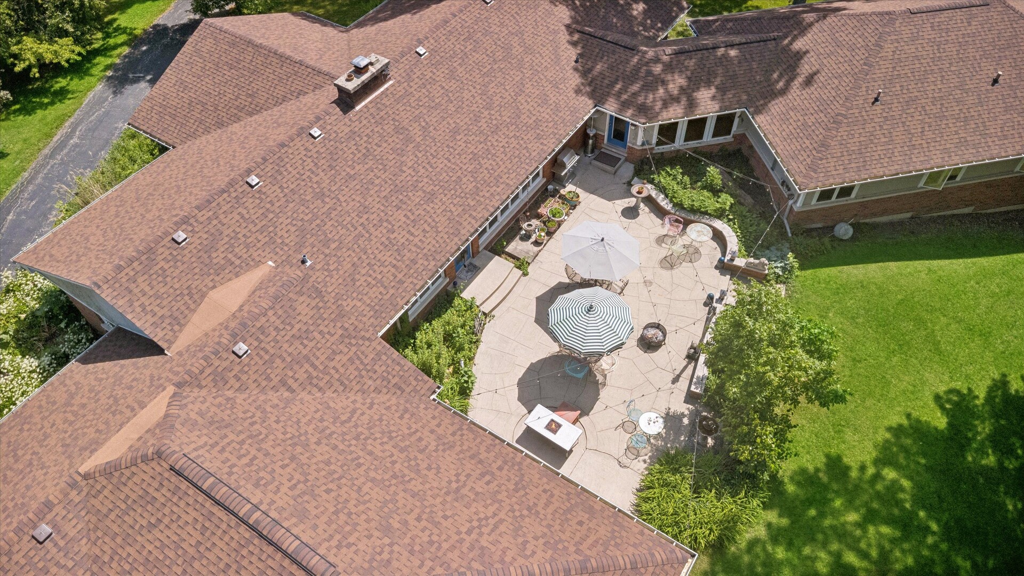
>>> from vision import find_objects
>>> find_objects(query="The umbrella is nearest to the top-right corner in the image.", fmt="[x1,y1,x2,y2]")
[560,221,640,283]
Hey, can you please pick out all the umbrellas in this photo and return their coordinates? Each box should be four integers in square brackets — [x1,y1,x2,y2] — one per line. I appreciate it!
[550,287,633,365]
[560,221,640,283]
